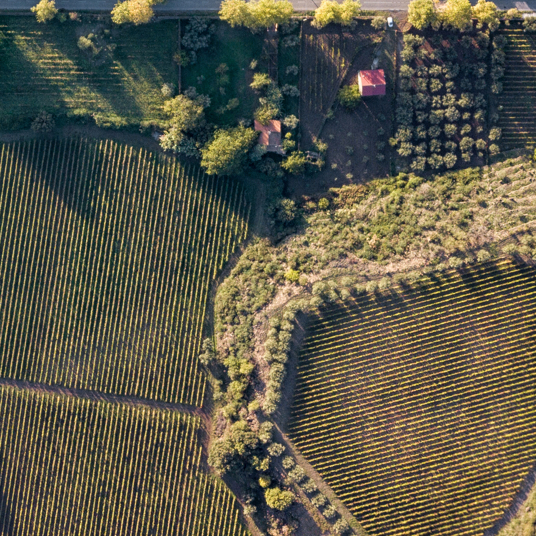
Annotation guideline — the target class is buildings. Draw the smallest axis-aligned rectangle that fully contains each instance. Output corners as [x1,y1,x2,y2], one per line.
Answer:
[356,69,386,97]
[252,120,284,154]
